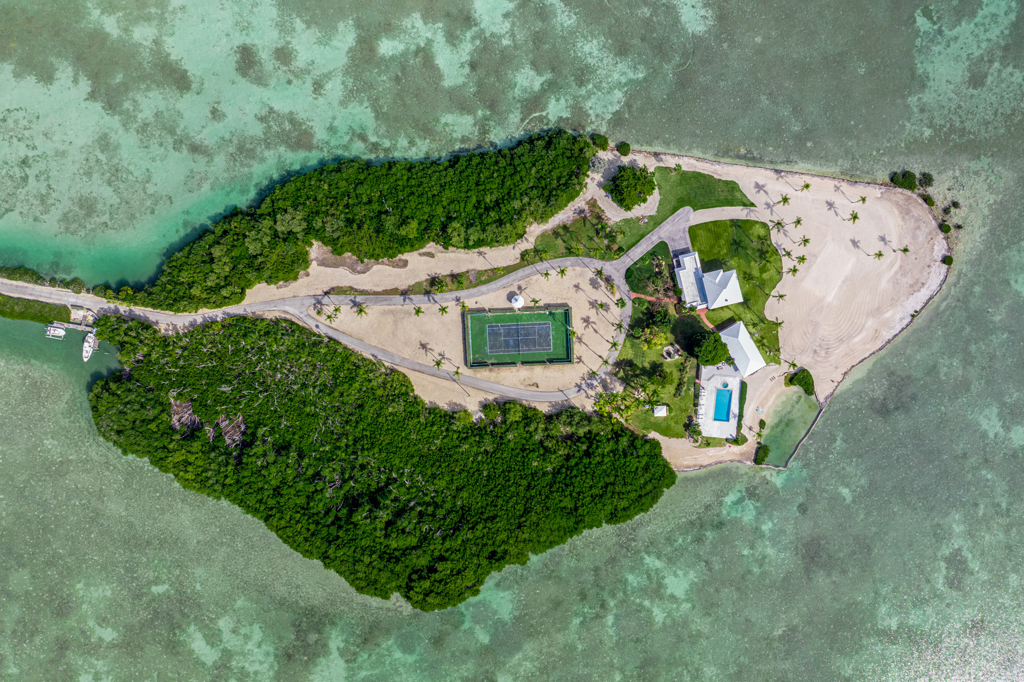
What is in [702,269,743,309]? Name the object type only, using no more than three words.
house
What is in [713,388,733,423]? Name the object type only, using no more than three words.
swimming pool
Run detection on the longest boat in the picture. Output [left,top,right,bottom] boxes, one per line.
[84,333,96,362]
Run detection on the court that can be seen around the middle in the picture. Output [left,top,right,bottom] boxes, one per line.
[470,310,570,366]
